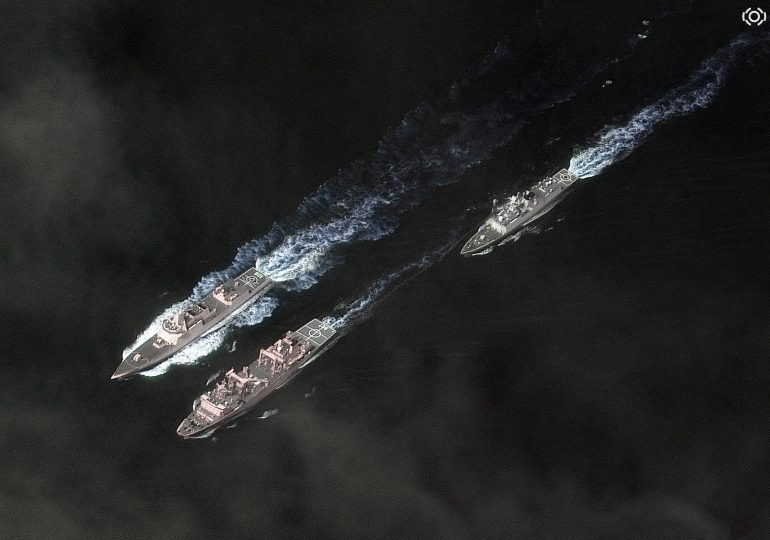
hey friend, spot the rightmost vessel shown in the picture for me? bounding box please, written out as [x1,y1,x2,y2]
[461,169,578,256]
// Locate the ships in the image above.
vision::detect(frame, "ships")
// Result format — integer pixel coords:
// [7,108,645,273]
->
[461,169,578,256]
[177,319,336,438]
[111,268,271,381]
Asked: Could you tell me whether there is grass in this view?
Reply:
No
